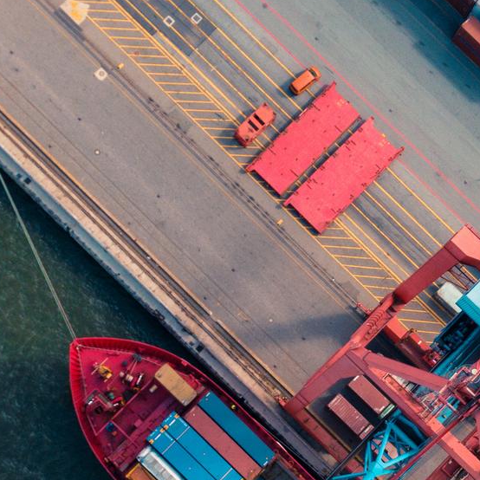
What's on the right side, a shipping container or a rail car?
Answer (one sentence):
Visible on the right side is a shipping container.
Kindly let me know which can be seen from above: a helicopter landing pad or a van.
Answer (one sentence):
There is a van in the scene.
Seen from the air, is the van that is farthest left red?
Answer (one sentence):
Yes, the van that is farthest left is indeed red.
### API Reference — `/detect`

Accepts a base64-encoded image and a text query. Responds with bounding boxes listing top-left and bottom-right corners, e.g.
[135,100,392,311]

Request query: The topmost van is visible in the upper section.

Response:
[289,69,319,99]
